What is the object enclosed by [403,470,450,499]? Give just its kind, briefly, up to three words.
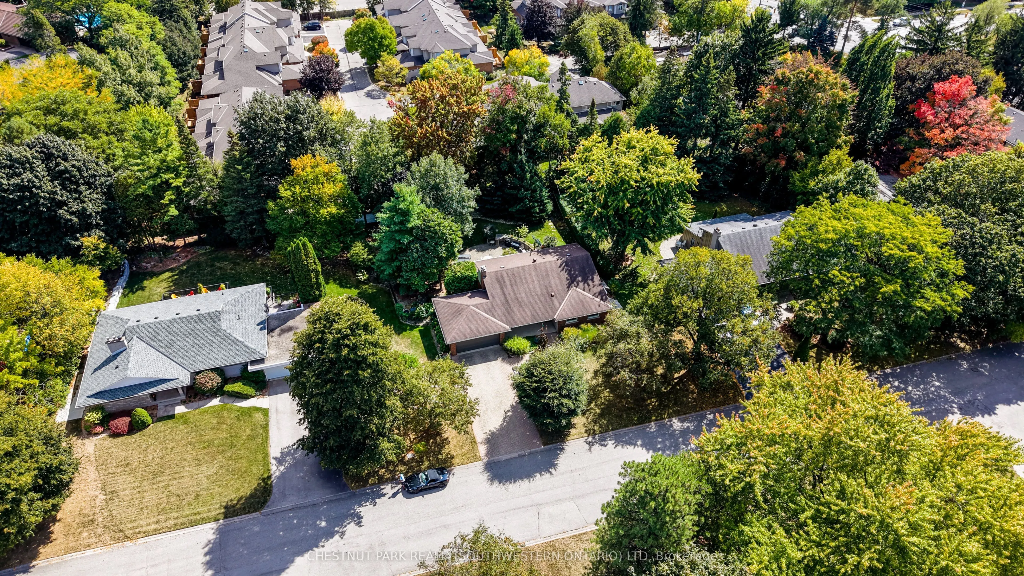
car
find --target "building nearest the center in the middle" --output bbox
[430,243,627,355]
